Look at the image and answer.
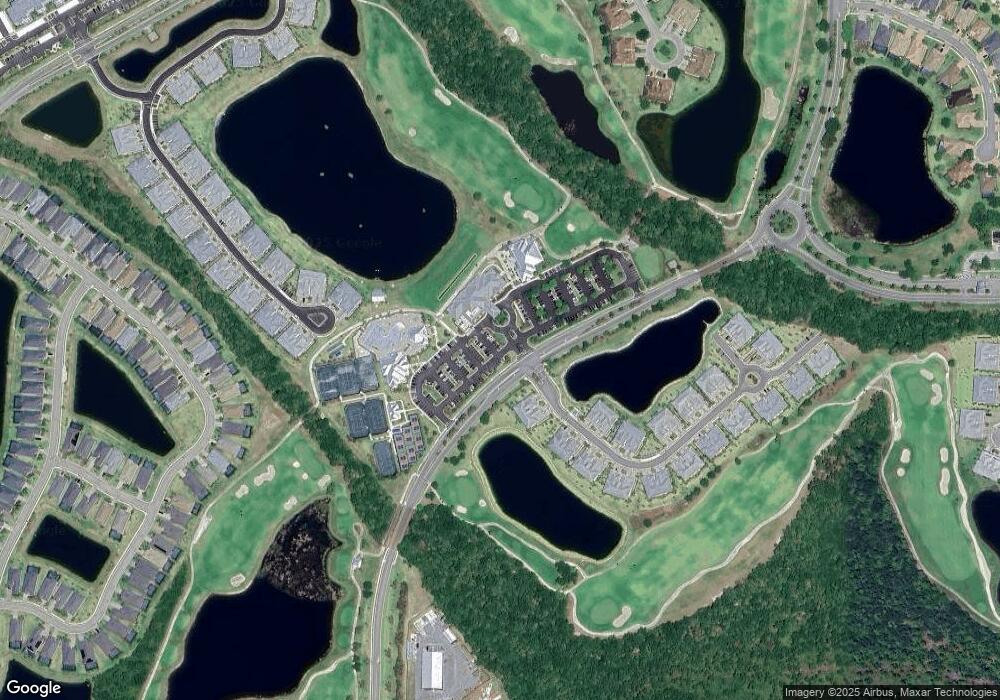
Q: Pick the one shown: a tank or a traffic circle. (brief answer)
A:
traffic circle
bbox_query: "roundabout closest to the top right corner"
[762,199,810,248]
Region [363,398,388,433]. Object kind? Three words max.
tennis court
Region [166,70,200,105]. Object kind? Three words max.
house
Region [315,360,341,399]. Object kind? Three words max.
tennis court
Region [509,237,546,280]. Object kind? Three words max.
building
